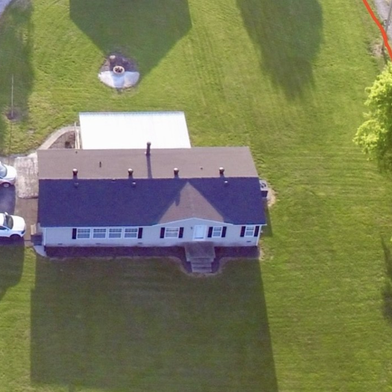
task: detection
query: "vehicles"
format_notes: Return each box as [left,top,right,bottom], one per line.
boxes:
[0,162,17,190]
[0,213,25,242]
